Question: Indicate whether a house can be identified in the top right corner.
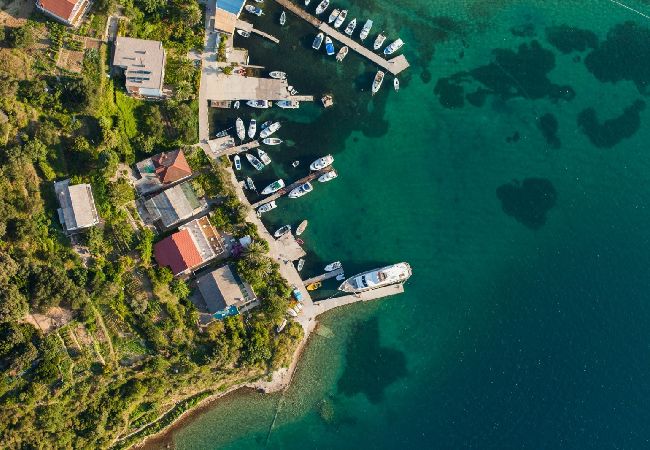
No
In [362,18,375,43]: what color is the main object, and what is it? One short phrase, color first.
white boat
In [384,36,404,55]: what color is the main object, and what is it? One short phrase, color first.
white boat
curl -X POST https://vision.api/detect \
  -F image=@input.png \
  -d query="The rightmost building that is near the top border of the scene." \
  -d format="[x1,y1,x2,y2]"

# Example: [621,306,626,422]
[214,0,248,36]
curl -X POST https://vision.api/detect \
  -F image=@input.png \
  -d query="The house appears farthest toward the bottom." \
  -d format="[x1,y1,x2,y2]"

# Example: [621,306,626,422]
[187,261,259,322]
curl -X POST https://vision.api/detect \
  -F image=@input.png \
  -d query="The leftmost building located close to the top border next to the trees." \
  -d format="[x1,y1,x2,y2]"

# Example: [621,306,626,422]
[35,0,102,31]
